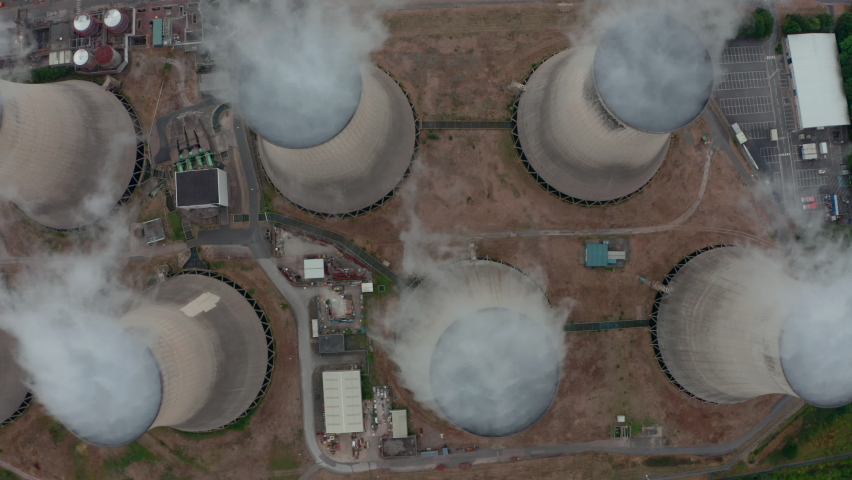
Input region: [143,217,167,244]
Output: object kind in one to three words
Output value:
shed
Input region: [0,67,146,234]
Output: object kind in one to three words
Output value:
cooling tower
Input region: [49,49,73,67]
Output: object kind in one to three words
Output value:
building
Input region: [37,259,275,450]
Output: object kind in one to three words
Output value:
cooling tower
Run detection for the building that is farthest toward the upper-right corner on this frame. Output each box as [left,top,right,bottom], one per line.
[781,32,850,134]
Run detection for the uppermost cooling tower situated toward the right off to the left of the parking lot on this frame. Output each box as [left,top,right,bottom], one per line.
[505,7,717,205]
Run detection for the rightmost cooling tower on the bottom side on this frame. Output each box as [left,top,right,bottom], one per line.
[637,241,852,413]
